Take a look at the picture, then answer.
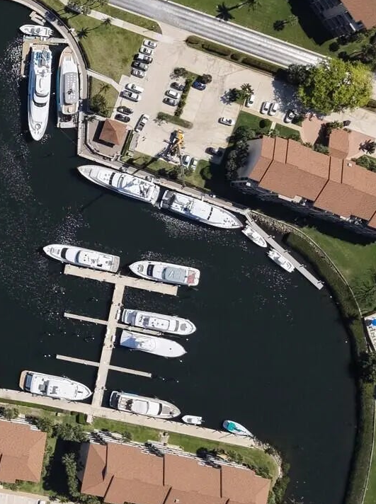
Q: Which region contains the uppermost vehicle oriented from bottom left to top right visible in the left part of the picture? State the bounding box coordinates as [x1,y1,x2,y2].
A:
[134,114,149,132]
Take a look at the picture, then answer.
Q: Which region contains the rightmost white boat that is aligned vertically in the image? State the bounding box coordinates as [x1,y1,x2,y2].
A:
[55,46,80,129]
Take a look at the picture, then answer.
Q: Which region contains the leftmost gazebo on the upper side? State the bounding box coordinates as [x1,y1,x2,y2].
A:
[97,118,128,146]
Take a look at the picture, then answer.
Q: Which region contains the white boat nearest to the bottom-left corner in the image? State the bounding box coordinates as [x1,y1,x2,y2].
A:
[17,369,94,401]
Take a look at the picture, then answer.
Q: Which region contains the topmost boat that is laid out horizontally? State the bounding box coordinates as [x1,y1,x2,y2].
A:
[20,25,55,38]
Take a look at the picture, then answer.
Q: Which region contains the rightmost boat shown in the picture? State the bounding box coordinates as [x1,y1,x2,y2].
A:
[262,248,292,271]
